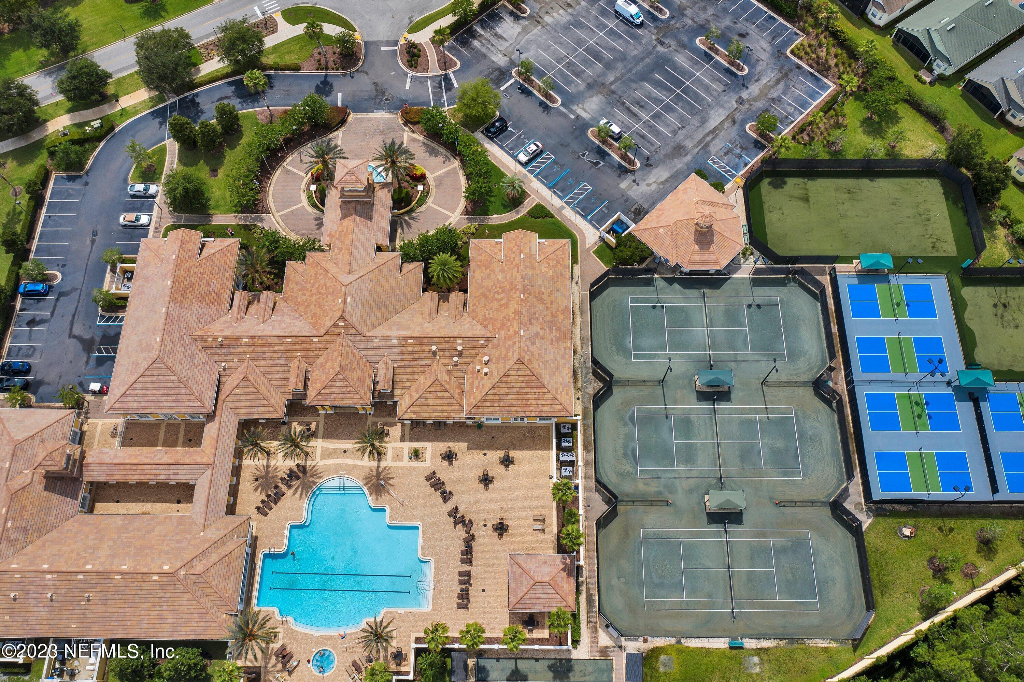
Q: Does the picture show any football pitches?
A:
No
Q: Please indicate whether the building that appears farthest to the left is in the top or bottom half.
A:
bottom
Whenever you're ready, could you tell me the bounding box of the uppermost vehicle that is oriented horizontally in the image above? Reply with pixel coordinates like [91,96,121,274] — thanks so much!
[127,183,158,197]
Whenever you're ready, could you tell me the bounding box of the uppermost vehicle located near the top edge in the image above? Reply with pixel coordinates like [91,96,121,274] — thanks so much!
[614,0,643,24]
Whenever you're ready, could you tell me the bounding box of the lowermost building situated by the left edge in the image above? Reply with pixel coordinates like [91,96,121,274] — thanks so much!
[0,409,257,641]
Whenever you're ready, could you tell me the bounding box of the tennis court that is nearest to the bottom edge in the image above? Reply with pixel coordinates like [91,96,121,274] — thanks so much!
[476,660,612,682]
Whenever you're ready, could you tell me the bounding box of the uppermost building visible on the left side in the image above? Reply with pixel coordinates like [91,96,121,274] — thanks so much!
[104,159,575,426]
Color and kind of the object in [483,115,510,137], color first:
black car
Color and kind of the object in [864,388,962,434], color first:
blue sports court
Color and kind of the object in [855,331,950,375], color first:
blue sports court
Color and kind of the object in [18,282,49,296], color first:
blue car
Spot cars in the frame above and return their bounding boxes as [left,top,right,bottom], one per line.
[119,214,150,227]
[0,361,31,375]
[0,378,28,392]
[483,115,510,137]
[517,141,544,164]
[127,183,158,197]
[18,282,49,296]
[598,118,624,139]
